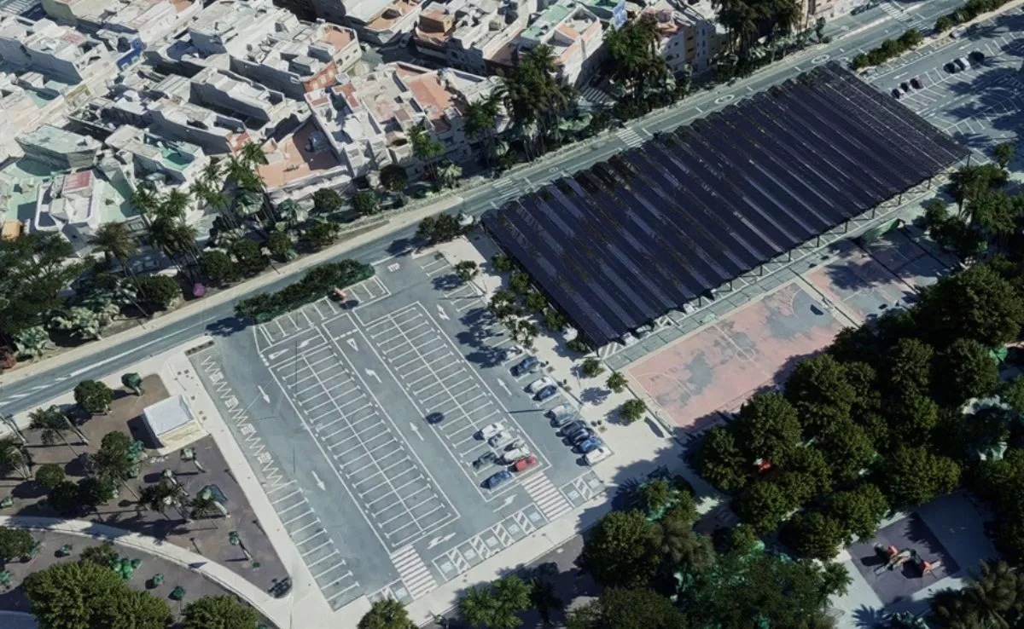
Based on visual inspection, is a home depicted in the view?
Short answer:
Yes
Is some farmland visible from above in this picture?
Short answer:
No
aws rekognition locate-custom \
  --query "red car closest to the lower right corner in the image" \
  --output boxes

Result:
[512,457,539,475]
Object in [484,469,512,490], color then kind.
blue car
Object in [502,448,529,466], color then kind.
white car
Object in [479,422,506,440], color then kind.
white car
